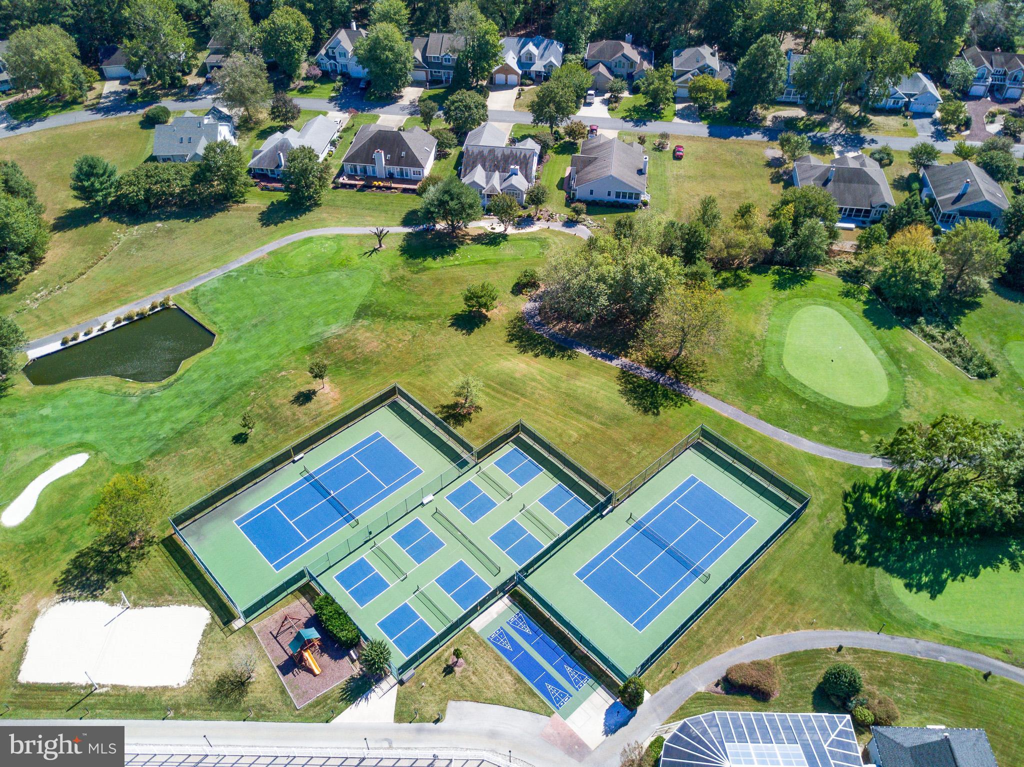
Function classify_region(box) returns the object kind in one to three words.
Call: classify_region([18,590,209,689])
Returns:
sports court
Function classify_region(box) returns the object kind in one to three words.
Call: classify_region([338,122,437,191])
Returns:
house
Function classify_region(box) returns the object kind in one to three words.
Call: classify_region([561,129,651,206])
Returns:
house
